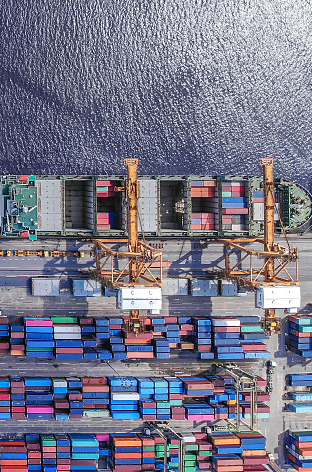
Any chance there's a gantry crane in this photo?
Yes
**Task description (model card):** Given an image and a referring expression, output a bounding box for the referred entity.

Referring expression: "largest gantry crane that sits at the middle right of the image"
[210,154,306,341]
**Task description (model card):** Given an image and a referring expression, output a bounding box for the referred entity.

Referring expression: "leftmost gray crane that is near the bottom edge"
[144,420,185,472]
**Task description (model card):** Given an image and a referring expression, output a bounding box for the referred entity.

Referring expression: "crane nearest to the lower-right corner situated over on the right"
[211,363,259,434]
